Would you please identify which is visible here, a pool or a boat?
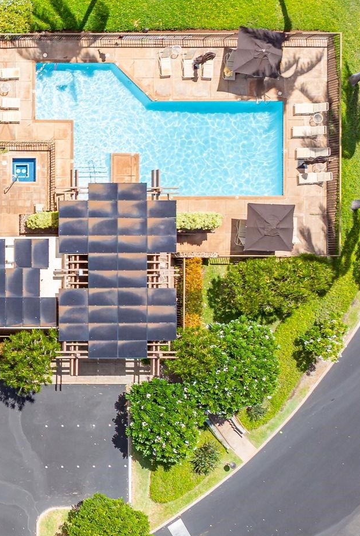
pool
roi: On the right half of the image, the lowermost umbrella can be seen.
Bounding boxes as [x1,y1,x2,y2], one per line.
[242,204,292,251]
